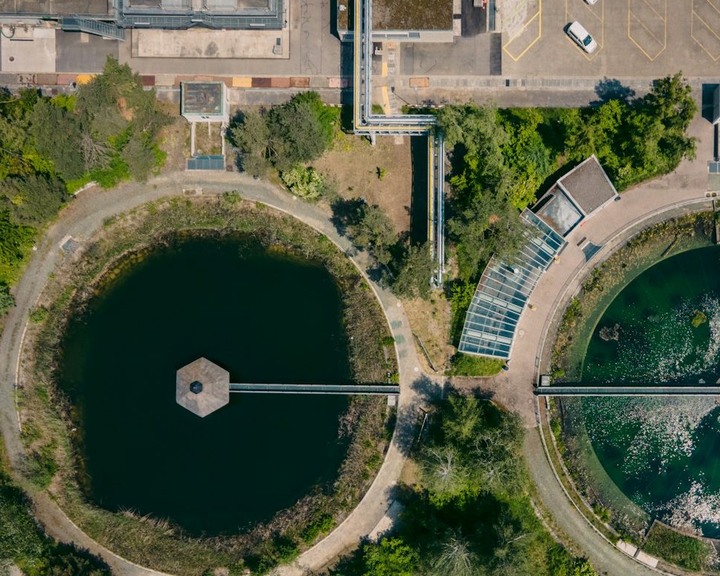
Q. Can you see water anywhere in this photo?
Yes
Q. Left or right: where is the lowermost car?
right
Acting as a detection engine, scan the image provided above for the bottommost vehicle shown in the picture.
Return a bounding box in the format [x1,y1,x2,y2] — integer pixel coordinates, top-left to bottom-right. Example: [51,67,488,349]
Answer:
[567,17,599,52]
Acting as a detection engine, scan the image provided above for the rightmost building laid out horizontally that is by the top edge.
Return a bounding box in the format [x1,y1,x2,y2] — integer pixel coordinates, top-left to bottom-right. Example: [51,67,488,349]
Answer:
[337,0,461,57]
